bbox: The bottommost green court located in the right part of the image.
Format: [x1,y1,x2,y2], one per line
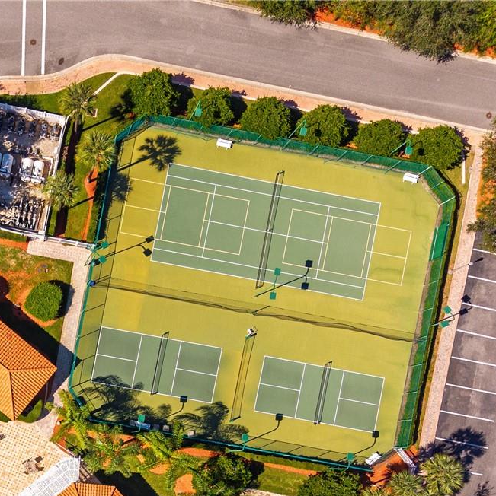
[255,356,385,433]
